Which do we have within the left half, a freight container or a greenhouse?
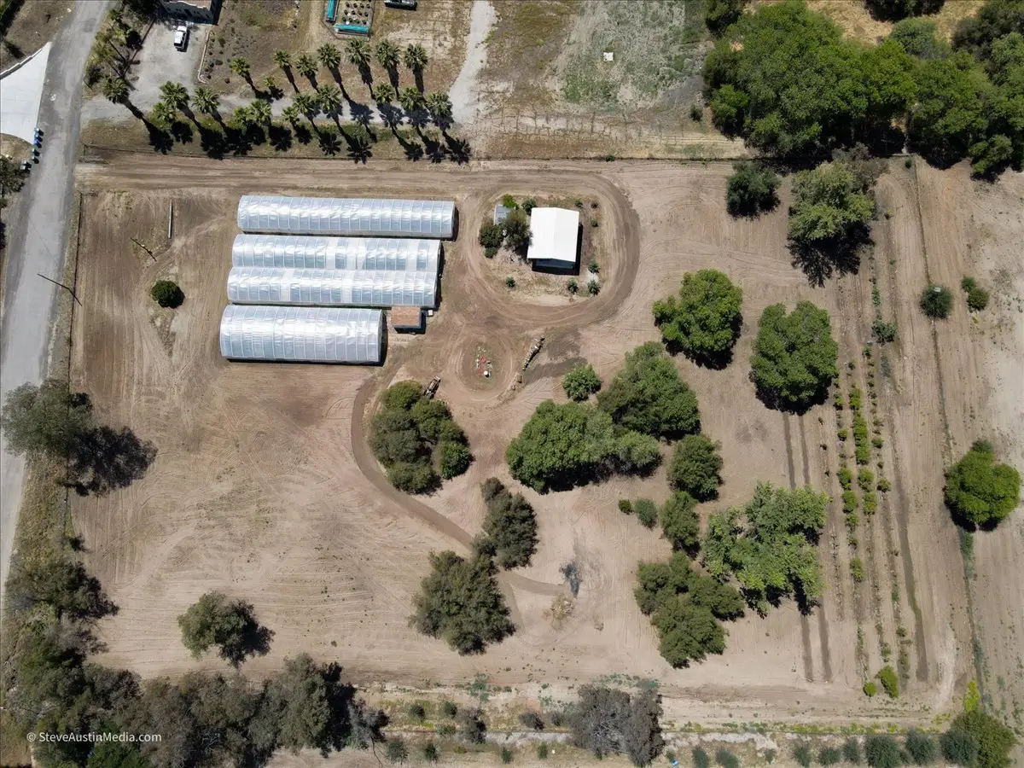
greenhouse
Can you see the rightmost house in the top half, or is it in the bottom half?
top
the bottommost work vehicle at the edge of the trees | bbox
[425,375,443,399]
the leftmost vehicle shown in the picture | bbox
[174,25,188,49]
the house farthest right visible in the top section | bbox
[527,208,579,266]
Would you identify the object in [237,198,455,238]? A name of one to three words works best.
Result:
greenhouse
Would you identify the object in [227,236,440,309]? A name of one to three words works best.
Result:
greenhouse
